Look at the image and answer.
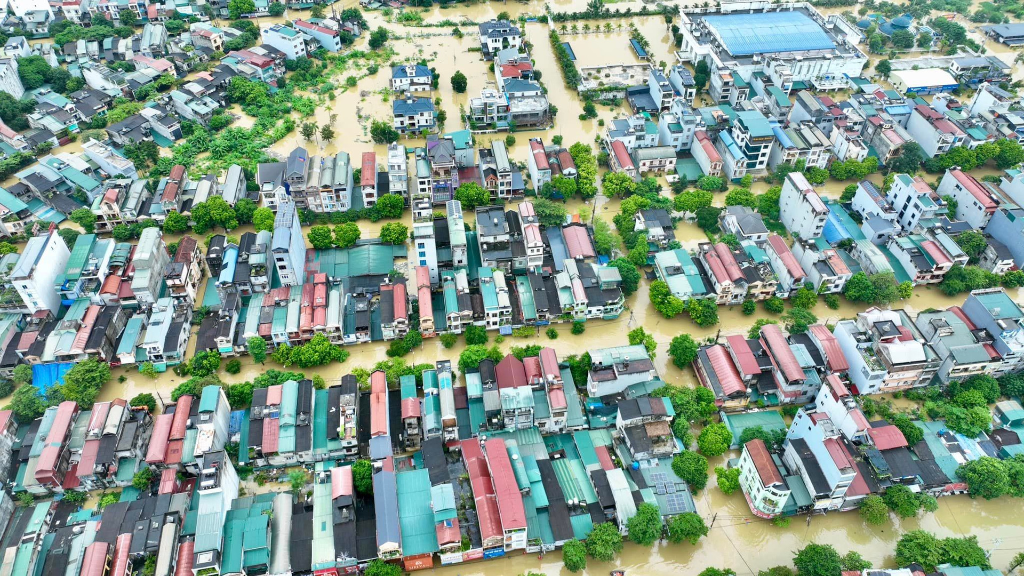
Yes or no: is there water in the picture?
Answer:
Yes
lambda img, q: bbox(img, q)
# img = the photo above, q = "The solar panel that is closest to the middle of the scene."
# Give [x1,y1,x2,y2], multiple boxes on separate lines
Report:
[448,201,463,225]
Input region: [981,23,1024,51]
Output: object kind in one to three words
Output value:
house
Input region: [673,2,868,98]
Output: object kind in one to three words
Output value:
building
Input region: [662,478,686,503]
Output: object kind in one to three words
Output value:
solar panel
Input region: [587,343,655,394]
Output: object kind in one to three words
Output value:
house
